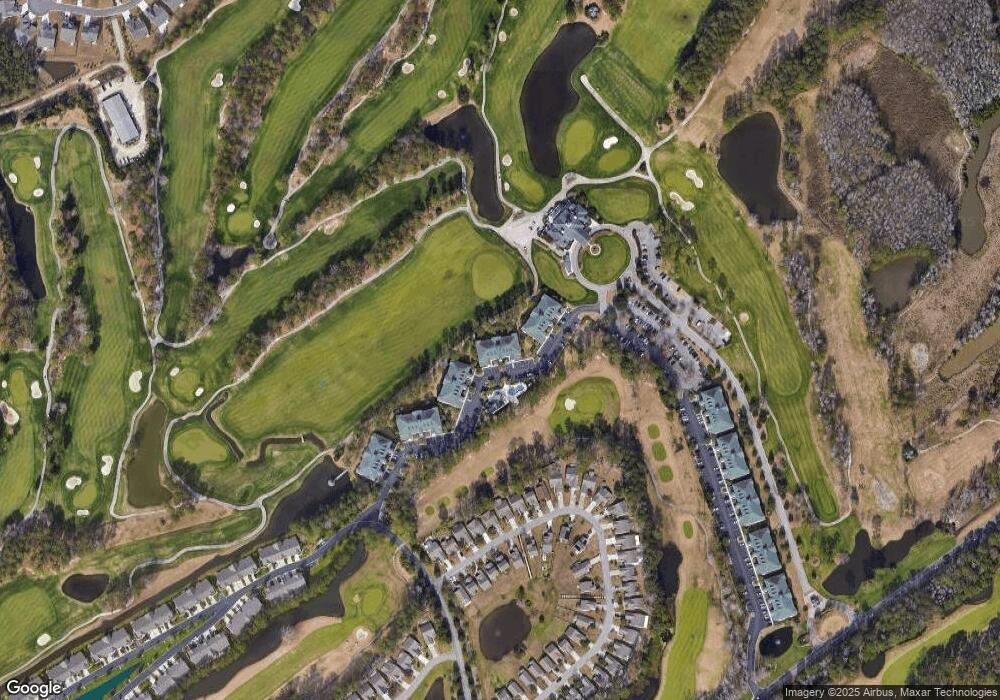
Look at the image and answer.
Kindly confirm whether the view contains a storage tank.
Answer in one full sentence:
No, the scene contains no storage tank.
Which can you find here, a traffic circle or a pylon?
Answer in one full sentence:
This aerial view contains a traffic circle.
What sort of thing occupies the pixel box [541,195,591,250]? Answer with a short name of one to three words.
building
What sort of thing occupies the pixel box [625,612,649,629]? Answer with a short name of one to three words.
house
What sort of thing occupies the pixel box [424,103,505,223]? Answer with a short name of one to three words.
pond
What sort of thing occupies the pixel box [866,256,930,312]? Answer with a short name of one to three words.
pond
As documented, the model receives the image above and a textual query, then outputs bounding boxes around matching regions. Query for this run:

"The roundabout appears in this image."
[572,225,637,289]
